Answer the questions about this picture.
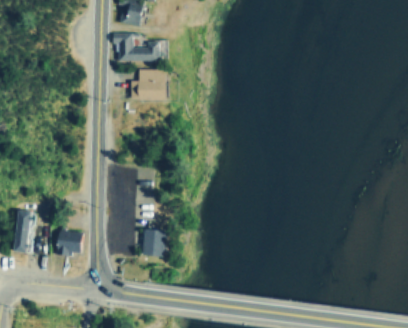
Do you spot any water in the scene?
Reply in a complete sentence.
Yes, there's water in this view.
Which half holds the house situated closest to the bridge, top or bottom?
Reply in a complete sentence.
The house situated closest to the bridge sits in the bottom half of the picture.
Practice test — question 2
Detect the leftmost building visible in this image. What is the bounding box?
[14,209,38,252]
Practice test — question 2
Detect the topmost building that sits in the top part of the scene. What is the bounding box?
[118,0,144,26]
